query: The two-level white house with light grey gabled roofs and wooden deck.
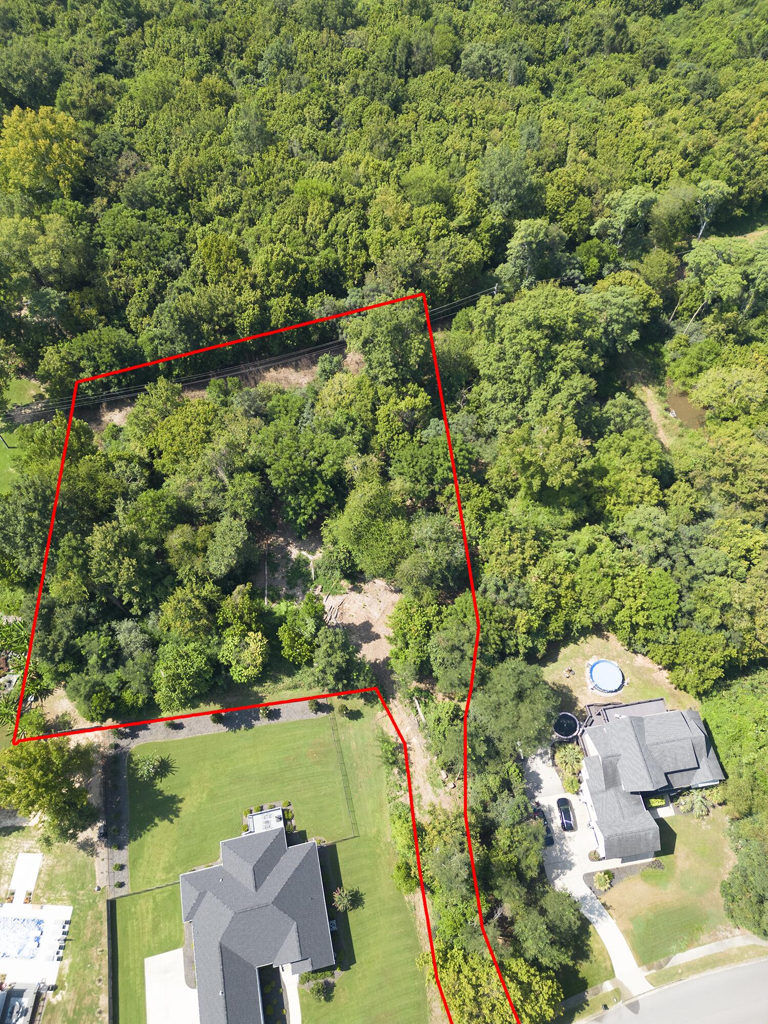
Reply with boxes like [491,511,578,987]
[580,708,729,861]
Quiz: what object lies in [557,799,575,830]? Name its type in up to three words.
car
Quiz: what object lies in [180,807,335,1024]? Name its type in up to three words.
house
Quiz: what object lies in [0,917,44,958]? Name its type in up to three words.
swimming pool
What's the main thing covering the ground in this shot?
trees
